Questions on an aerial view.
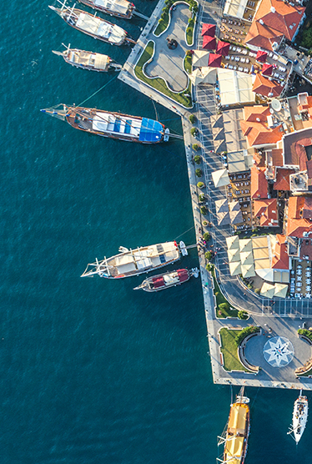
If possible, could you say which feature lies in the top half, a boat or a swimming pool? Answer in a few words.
boat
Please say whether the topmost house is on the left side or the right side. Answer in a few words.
right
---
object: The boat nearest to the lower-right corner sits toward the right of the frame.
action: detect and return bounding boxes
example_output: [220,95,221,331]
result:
[291,388,310,444]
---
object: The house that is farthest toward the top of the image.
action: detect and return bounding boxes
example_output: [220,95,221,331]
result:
[243,0,307,54]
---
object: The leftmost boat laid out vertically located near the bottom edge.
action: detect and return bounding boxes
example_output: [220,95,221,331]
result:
[221,387,259,464]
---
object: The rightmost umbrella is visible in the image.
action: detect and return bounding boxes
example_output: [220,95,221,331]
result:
[274,283,288,298]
